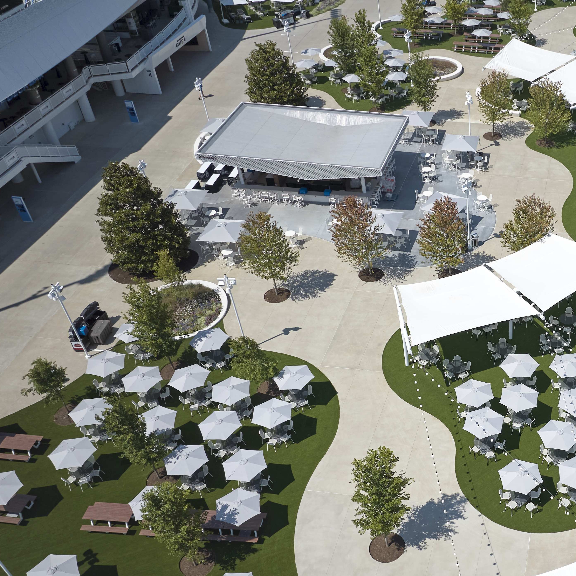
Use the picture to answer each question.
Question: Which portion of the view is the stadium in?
top left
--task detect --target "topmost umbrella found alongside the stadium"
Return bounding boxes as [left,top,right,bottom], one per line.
[220,0,247,22]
